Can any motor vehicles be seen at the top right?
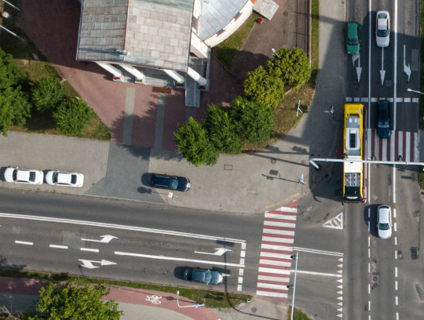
Yes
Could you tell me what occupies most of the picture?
paved ground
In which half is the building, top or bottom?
top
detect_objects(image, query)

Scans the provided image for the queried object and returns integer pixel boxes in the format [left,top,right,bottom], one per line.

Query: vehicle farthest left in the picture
[6,167,46,185]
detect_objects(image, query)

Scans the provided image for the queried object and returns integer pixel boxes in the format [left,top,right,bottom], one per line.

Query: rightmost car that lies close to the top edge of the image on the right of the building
[374,10,392,49]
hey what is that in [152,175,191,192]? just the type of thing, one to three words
car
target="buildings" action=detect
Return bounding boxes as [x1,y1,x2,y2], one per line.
[77,0,255,106]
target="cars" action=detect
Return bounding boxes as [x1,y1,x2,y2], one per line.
[47,170,87,189]
[6,167,46,185]
[152,175,191,192]
[344,22,361,55]
[375,102,393,138]
[374,10,392,49]
[185,267,224,285]
[375,206,392,239]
